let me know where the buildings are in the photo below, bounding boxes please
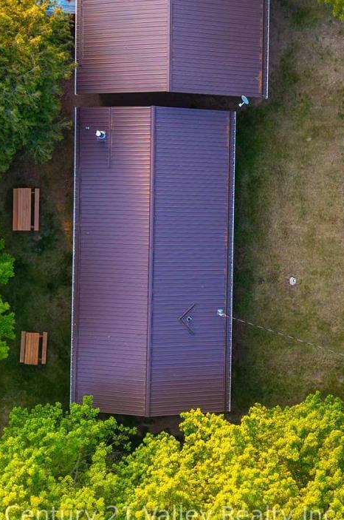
[72,0,270,98]
[67,105,238,415]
